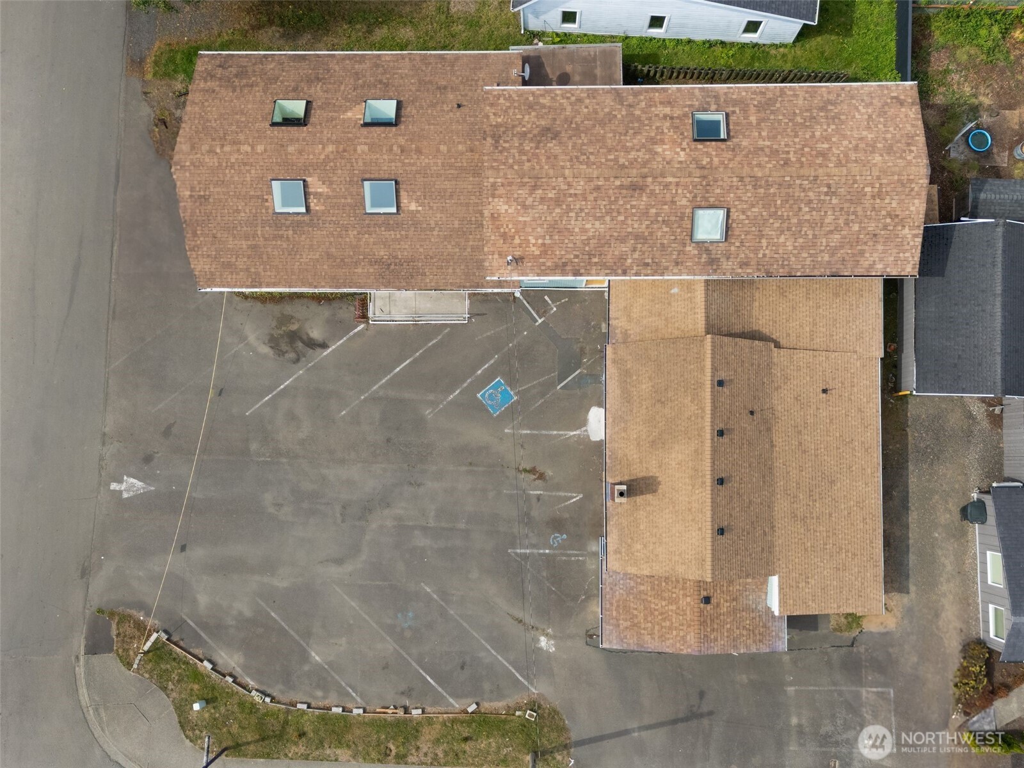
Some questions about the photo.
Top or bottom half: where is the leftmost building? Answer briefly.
top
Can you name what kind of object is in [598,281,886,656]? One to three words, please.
house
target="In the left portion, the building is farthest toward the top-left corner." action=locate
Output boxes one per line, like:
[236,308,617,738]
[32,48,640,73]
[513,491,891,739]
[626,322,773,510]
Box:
[176,51,522,294]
